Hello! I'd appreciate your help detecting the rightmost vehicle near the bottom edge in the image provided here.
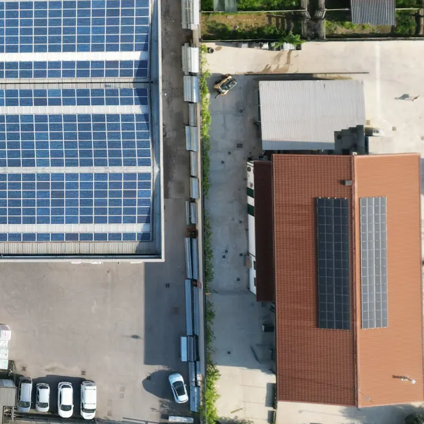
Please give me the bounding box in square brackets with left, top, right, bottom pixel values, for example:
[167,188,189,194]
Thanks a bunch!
[167,369,189,405]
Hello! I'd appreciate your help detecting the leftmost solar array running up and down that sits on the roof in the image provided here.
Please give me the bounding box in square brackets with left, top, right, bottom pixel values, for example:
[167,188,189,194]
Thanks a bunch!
[317,200,353,329]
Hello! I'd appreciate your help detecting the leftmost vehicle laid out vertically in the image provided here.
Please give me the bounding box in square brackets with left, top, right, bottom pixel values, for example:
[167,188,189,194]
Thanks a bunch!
[17,376,34,412]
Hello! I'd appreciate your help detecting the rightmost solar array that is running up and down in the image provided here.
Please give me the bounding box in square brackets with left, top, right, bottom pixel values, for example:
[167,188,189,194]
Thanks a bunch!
[360,200,388,329]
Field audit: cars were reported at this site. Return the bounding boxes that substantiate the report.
[35,381,51,412]
[17,376,34,412]
[167,369,189,405]
[58,380,74,417]
[80,380,97,418]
